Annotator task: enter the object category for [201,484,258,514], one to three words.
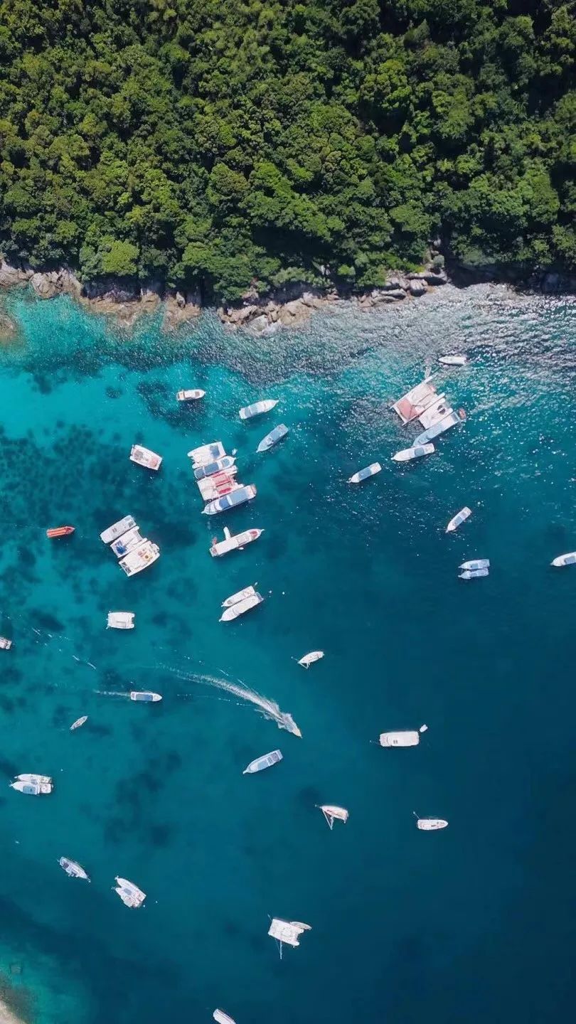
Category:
boat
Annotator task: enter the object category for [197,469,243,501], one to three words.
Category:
boat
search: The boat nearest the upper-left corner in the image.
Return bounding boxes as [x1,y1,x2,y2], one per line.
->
[176,388,205,401]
